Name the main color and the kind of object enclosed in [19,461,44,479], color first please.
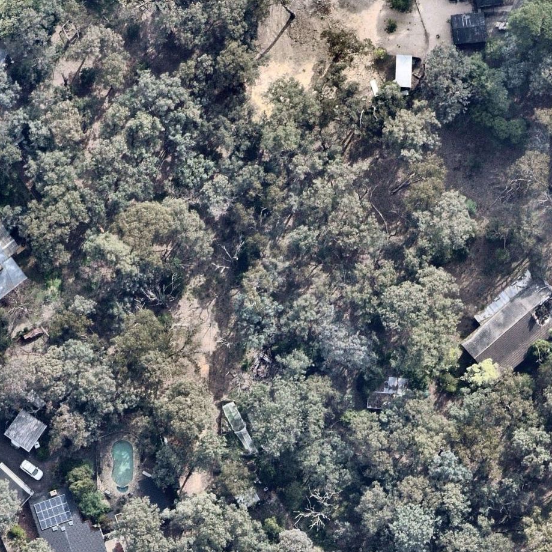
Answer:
white car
